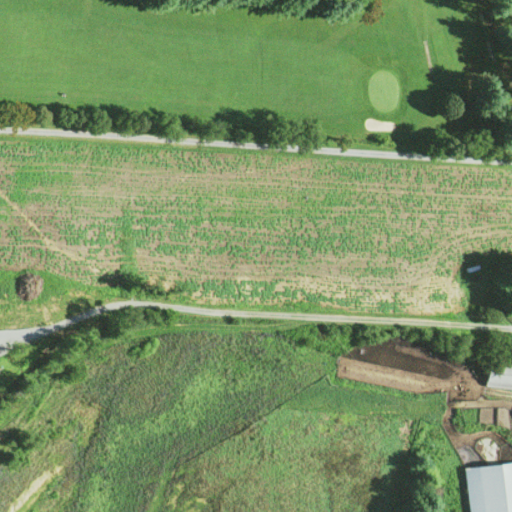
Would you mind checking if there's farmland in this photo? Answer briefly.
Yes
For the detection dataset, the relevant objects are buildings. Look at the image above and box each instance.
[480,408,494,424]
[498,408,510,428]
[486,370,512,392]
[466,465,512,512]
